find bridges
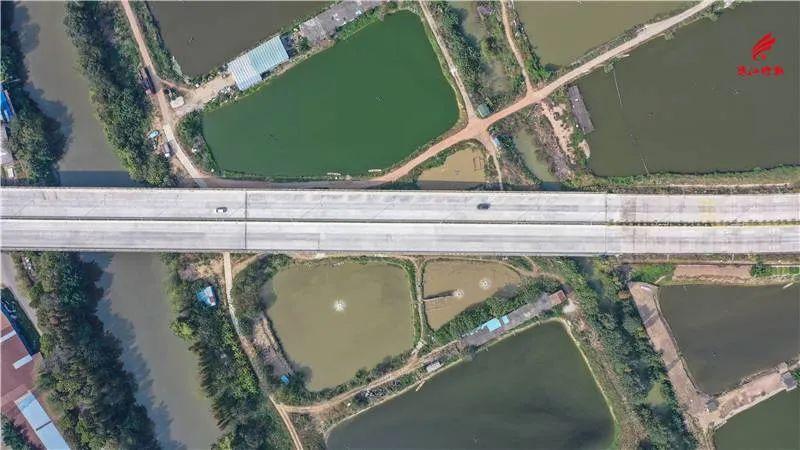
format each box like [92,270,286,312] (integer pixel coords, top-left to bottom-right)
[0,187,800,255]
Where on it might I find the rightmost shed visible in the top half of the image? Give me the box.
[568,85,593,133]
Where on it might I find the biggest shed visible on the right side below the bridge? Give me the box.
[462,296,555,346]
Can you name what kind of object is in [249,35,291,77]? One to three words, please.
shed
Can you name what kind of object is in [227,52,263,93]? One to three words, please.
shed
